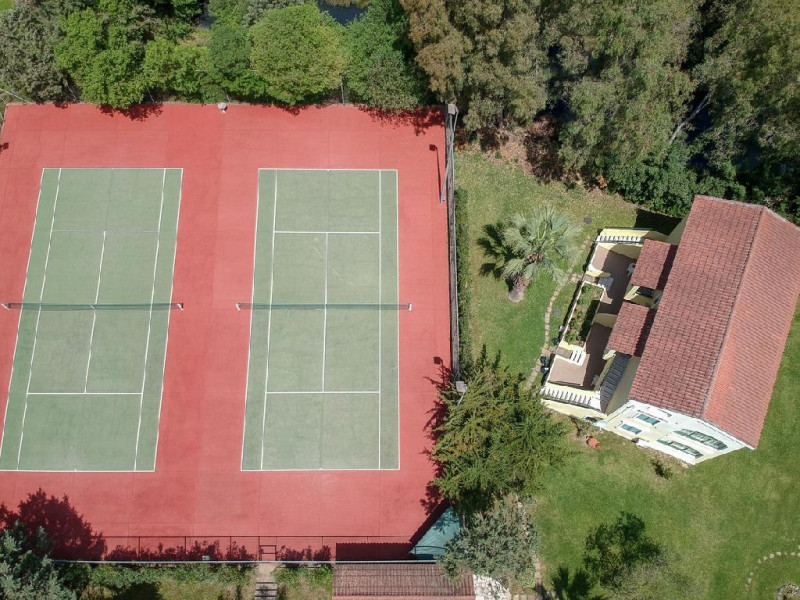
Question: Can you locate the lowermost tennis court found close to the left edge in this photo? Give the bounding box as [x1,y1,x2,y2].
[0,167,183,472]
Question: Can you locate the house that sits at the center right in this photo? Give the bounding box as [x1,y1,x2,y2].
[601,195,800,464]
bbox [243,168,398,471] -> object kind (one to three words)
tennis court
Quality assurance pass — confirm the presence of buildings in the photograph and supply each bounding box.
[332,563,477,600]
[601,195,800,464]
